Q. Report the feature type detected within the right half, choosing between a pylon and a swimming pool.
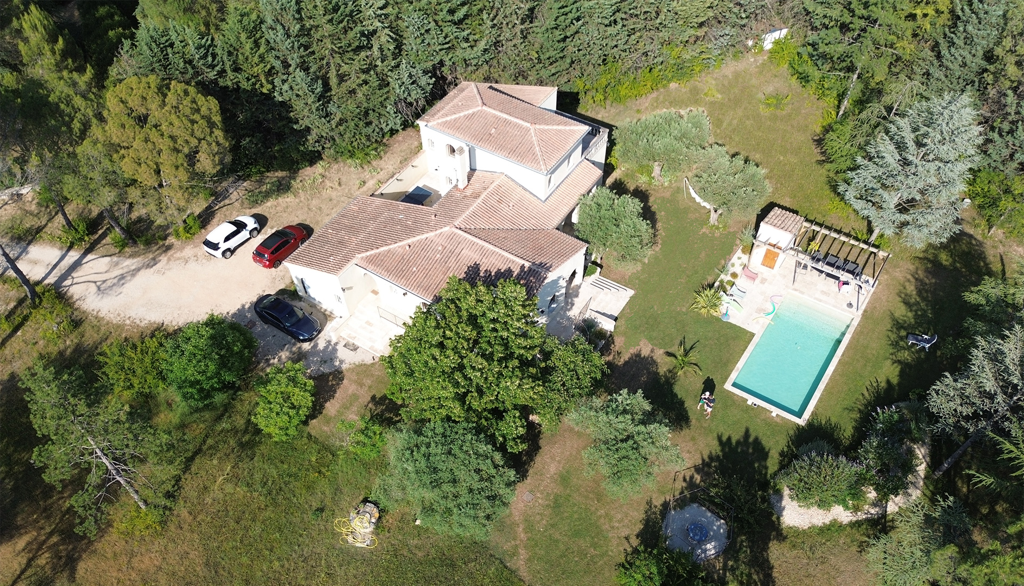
swimming pool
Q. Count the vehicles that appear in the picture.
3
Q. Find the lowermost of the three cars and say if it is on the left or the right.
left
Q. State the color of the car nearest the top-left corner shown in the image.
white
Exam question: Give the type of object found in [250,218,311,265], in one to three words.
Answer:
car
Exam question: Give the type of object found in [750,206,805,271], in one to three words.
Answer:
shed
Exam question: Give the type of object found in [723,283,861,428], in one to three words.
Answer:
swimming pool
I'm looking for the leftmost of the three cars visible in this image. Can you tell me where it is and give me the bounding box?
[198,210,262,255]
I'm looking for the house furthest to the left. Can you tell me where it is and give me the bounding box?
[283,80,609,345]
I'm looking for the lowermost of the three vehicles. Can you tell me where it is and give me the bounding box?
[247,293,322,343]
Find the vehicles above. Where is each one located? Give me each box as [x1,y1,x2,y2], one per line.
[198,210,262,255]
[247,293,322,343]
[250,218,311,265]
